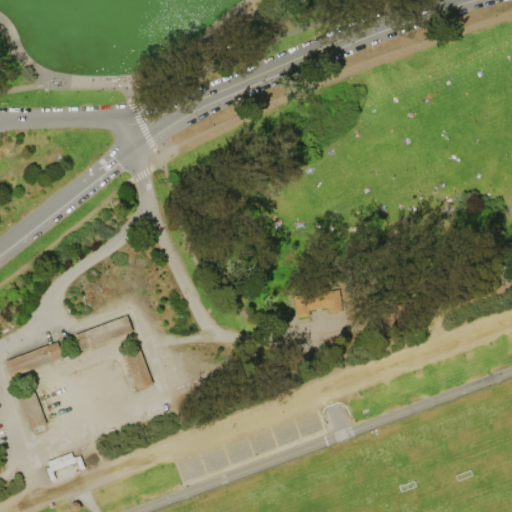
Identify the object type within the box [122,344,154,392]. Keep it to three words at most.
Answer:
building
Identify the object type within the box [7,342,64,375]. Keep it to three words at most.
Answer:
building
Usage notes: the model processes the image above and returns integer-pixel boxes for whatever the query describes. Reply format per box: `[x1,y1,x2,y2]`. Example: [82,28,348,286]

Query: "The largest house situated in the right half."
[294,288,344,320]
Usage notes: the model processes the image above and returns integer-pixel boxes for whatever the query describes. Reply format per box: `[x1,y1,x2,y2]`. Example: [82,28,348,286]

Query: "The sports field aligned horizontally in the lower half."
[155,378,512,512]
